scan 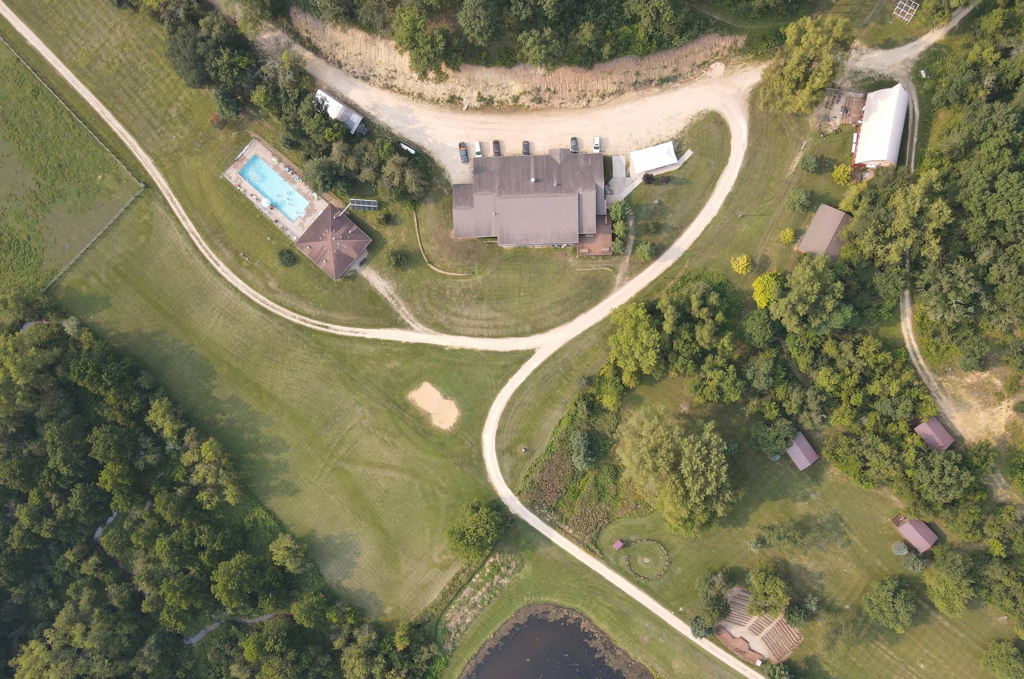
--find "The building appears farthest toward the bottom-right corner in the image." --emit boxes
[899,516,938,555]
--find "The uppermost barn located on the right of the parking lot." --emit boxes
[851,84,911,171]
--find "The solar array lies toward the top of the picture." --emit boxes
[350,199,378,211]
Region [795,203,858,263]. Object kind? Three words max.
building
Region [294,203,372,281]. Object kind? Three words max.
building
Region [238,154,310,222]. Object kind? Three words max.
swimming pool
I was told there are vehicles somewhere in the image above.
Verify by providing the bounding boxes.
[522,141,529,155]
[571,136,579,154]
[493,140,501,156]
[474,141,483,157]
[459,142,469,164]
[593,136,600,153]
